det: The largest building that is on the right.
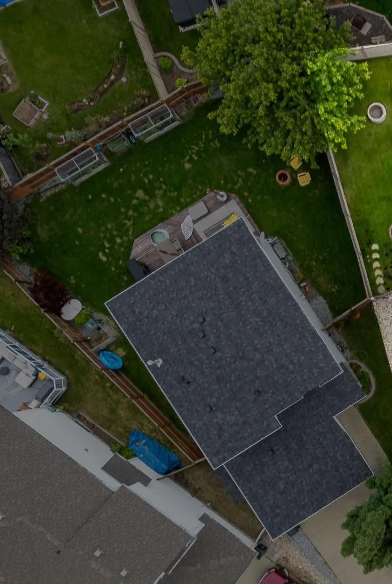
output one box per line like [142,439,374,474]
[104,215,374,540]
